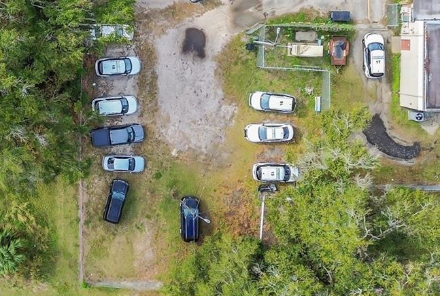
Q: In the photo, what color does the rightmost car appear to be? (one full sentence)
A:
From above, the rightmost car appears white.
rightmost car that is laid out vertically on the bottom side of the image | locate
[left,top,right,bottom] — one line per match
[180,195,201,242]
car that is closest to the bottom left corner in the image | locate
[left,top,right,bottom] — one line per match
[103,177,129,224]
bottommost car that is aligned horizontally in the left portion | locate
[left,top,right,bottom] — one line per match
[102,154,145,175]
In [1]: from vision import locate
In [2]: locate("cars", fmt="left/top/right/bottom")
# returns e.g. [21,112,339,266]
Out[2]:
[103,177,129,224]
[360,32,386,79]
[102,154,145,175]
[244,122,292,143]
[252,161,298,185]
[95,55,140,77]
[248,91,295,112]
[180,195,201,242]
[100,21,133,43]
[91,94,138,117]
